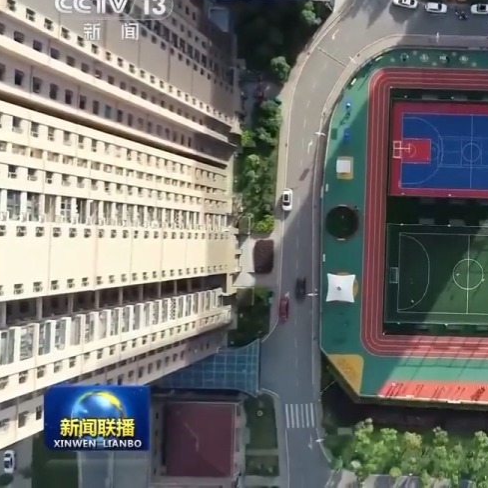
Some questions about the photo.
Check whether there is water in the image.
No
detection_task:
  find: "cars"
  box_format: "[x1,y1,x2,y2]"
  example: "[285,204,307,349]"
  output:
[2,449,16,472]
[278,298,289,322]
[392,0,417,9]
[470,4,488,15]
[282,188,293,212]
[425,3,448,14]
[295,276,307,300]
